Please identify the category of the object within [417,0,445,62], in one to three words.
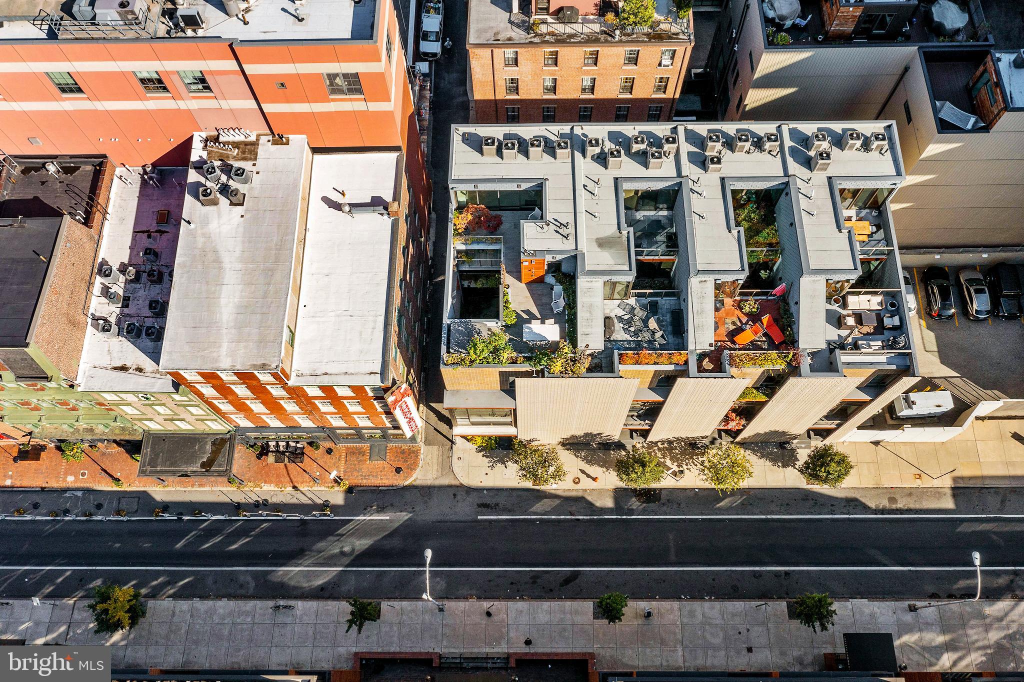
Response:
truck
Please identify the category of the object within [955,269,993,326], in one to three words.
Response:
car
